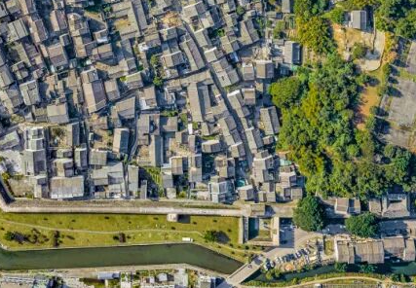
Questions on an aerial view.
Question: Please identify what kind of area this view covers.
residential area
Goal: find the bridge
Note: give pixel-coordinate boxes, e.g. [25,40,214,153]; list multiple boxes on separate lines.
[221,248,273,288]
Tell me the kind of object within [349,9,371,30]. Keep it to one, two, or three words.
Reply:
house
